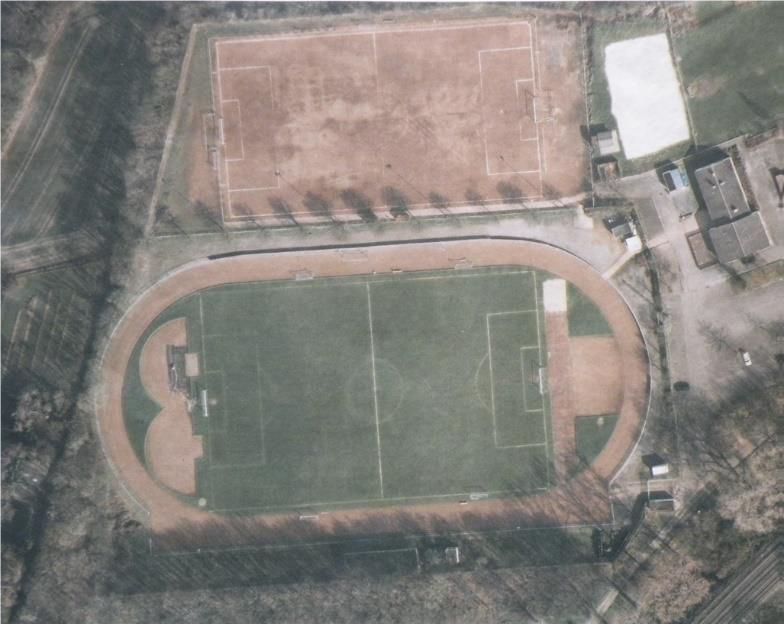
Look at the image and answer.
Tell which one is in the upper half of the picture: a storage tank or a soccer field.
soccer field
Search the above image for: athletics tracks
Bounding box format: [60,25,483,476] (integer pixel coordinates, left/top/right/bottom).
[100,243,648,547]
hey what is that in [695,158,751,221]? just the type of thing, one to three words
building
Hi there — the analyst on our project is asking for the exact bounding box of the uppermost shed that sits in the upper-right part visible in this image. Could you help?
[598,130,620,155]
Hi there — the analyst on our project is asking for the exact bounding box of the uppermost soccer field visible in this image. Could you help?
[211,18,548,224]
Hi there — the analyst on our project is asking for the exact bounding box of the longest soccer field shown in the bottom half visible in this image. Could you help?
[122,265,625,515]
